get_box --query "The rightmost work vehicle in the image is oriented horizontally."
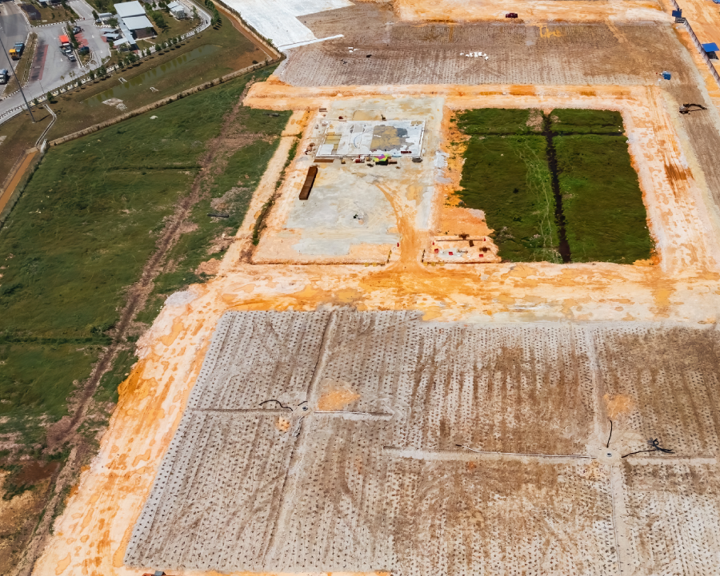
[678,95,715,112]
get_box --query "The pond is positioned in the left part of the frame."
[81,44,223,109]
